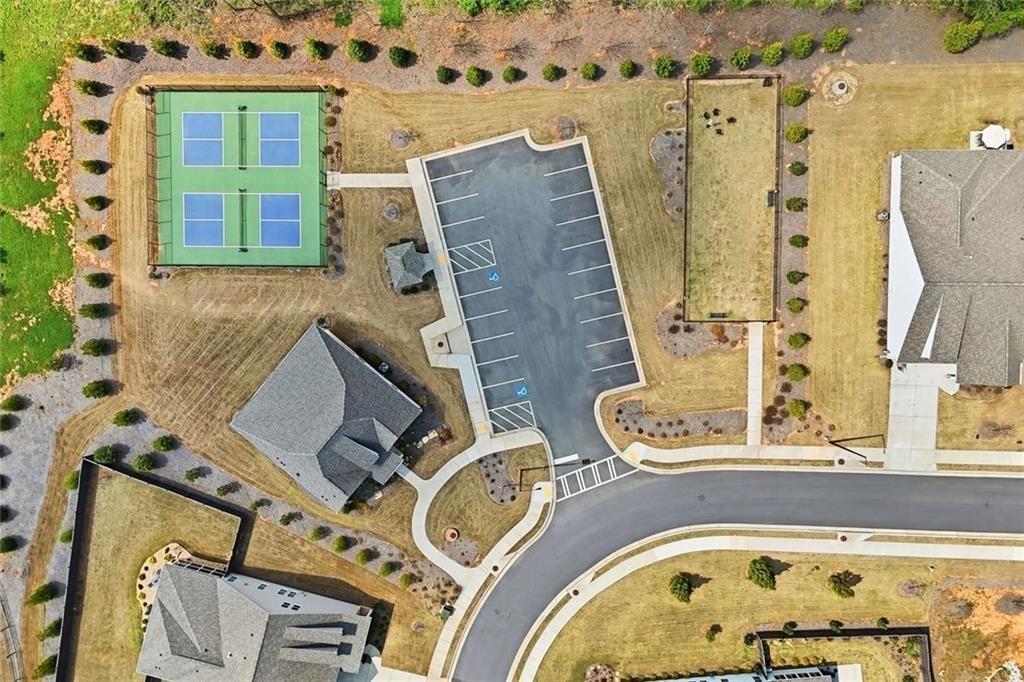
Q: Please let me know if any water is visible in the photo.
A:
No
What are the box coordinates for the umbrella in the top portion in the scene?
[974,125,1003,149]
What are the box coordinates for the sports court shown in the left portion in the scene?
[157,90,327,265]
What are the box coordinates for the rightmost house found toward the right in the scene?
[889,150,1024,387]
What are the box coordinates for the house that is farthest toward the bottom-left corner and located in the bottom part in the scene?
[134,549,373,682]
